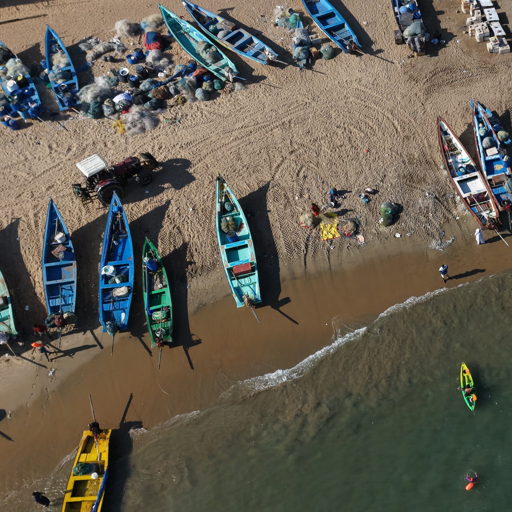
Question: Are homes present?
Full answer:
No, I can see no home in this picture.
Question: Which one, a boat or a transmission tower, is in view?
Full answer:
Of the two, only a boat appears.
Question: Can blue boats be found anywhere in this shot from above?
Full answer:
Yes, the picture does show a blue boat.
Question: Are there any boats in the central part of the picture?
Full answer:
Yes, looking in the central part of the picture, one can make out a boat.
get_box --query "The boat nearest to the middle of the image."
[214,170,266,337]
